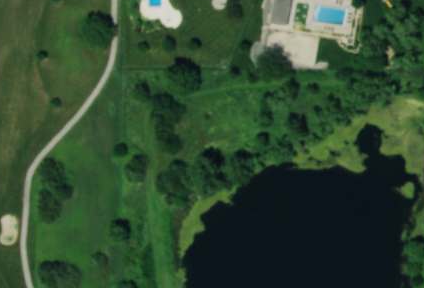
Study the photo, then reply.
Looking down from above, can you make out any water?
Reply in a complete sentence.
Yes, there's water in this view.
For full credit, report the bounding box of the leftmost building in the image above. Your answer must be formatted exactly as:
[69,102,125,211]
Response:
[272,0,293,26]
